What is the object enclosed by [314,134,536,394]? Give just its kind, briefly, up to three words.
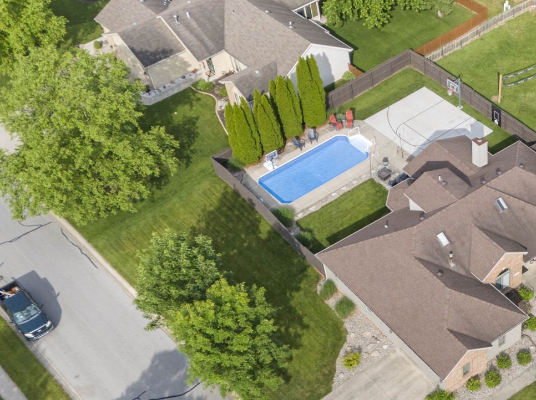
house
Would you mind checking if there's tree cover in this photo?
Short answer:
Yes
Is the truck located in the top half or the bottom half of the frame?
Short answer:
bottom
